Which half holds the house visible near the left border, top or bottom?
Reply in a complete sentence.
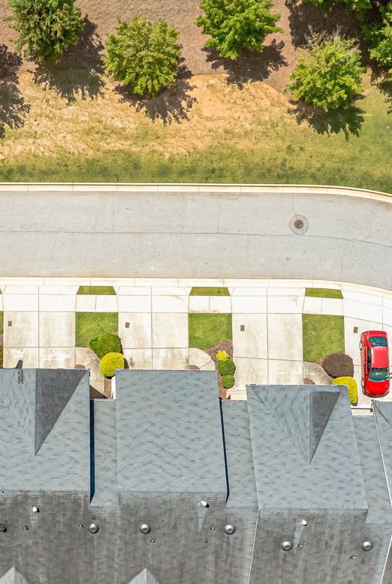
It is in the bottom half that the house visible near the left border appears.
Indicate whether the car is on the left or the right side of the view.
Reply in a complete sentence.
The car appears in the right half of the scene.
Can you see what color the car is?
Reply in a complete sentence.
In this view, the car is red.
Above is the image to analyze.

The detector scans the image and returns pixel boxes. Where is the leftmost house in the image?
[0,368,120,584]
